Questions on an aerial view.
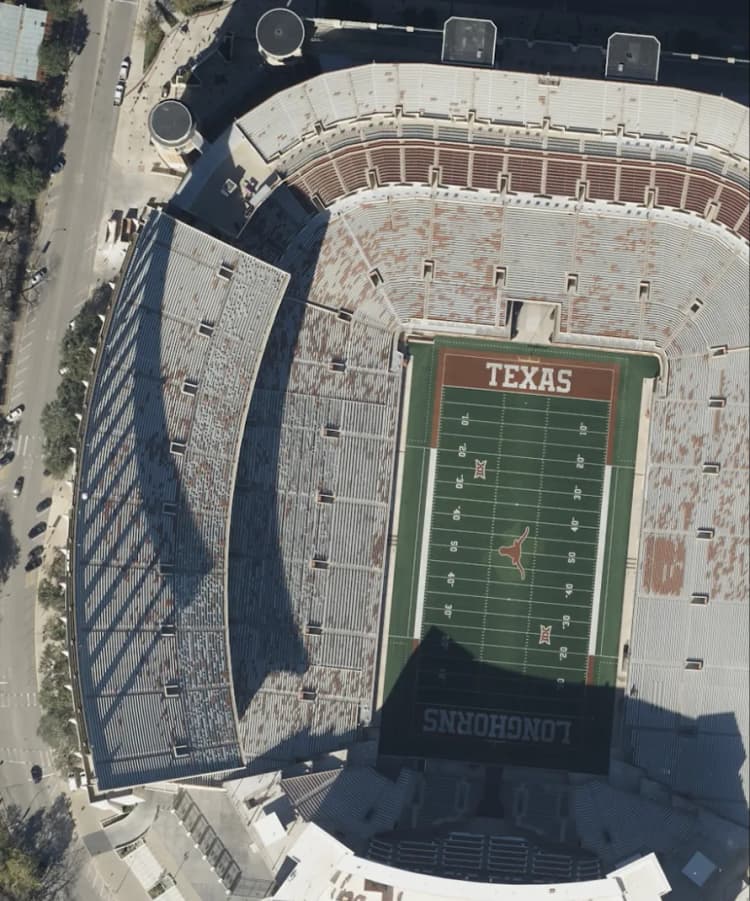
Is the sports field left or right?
right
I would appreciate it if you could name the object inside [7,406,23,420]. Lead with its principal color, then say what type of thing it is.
white car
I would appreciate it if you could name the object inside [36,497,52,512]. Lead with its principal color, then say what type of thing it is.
black car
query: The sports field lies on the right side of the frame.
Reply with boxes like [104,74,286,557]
[378,338,658,772]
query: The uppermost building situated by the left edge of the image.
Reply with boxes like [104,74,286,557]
[0,4,48,83]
